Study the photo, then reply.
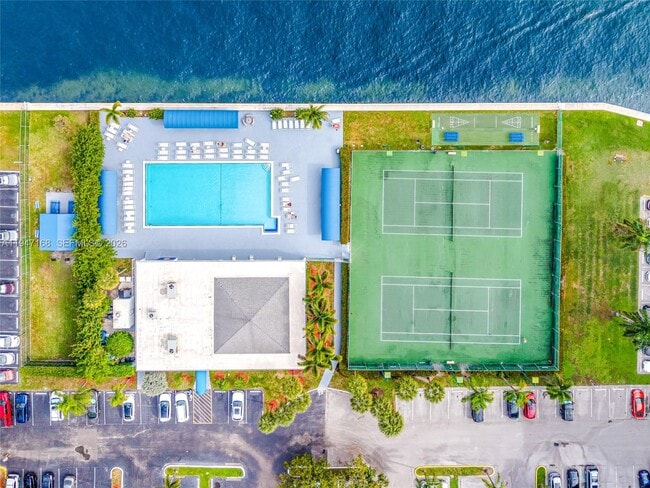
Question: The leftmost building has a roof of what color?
blue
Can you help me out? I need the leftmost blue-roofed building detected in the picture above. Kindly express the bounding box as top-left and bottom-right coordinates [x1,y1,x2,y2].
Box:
[40,213,81,251]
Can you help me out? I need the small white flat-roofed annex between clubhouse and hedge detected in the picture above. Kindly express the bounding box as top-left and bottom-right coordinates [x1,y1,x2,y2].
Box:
[113,295,135,328]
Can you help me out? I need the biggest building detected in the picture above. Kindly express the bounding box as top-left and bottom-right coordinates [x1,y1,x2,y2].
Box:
[135,258,306,371]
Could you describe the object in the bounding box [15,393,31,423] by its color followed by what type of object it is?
blue car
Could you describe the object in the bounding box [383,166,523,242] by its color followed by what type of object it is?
green tennis court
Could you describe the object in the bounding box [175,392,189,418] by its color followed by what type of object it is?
white car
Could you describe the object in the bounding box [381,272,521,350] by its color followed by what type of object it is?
green tennis court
